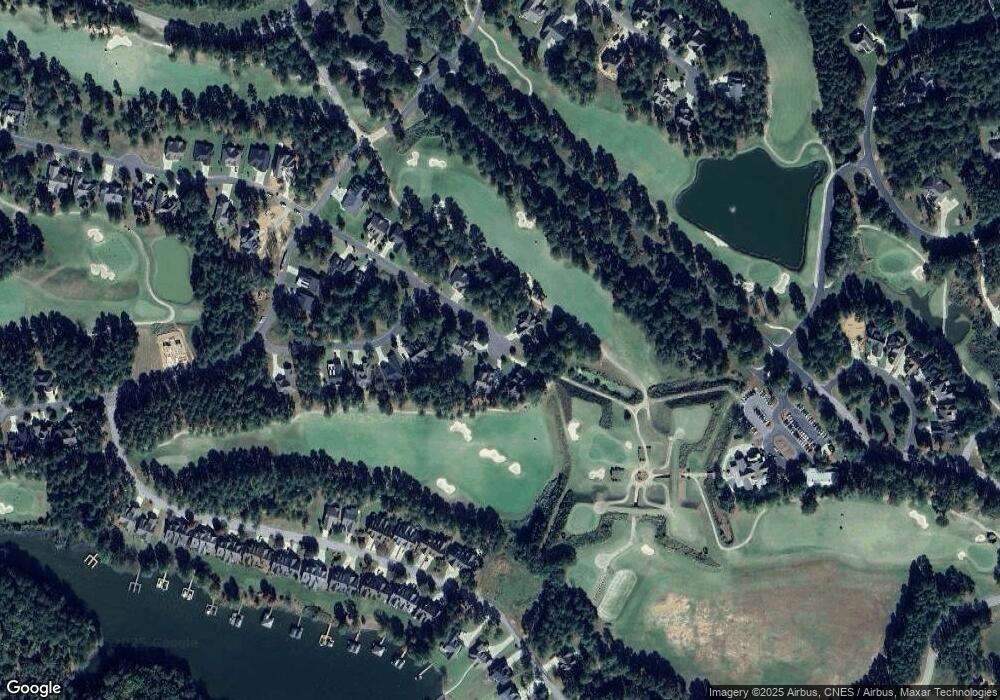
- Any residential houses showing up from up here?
Yes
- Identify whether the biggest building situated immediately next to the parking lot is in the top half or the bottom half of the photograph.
bottom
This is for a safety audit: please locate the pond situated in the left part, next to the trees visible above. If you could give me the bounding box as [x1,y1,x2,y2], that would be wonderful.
[152,238,190,301]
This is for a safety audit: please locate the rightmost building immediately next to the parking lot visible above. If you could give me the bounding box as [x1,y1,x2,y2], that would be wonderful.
[808,471,833,486]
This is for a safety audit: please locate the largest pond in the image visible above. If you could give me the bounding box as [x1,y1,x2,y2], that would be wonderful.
[679,150,825,268]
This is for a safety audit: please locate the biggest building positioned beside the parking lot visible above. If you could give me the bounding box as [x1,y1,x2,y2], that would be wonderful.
[728,452,774,488]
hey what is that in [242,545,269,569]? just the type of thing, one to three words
house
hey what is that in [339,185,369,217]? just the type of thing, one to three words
house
